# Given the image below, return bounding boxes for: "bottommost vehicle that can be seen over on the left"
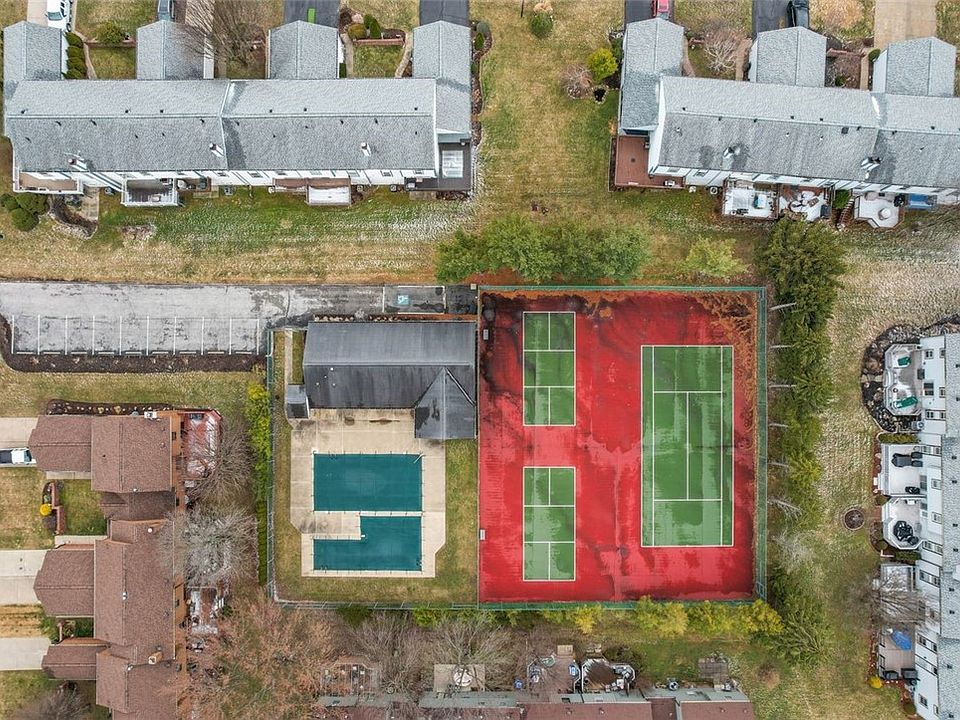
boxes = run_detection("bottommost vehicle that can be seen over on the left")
[0,447,36,468]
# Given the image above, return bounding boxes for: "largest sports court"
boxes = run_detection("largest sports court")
[479,291,758,601]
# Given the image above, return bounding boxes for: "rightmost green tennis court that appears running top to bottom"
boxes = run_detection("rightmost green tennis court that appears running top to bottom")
[641,346,733,547]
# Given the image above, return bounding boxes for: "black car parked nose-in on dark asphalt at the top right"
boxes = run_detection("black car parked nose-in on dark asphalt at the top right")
[787,0,810,28]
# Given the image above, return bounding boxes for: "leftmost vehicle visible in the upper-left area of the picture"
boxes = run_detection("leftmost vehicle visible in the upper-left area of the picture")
[46,0,72,35]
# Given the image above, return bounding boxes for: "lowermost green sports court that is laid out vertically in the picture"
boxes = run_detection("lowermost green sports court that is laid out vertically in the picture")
[523,467,576,580]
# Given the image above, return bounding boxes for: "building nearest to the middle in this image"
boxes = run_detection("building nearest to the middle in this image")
[302,322,476,442]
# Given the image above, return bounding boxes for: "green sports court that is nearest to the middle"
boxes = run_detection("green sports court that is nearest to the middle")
[523,311,576,426]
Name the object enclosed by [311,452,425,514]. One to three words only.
swimming pool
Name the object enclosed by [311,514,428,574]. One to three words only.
swimming pool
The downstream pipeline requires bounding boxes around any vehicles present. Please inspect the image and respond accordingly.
[787,0,810,28]
[0,447,36,468]
[156,0,178,22]
[652,0,671,21]
[46,0,72,35]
